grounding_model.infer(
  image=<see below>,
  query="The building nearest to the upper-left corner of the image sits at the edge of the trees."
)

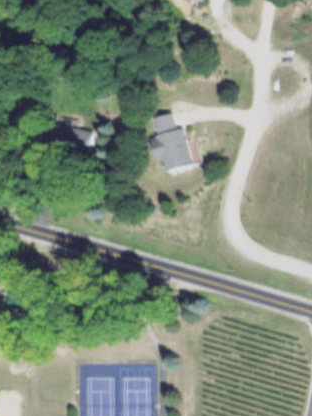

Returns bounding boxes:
[72,128,99,149]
